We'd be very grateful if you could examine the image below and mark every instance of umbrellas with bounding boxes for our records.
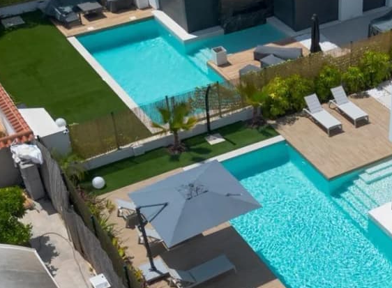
[298,9,328,60]
[127,160,268,277]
